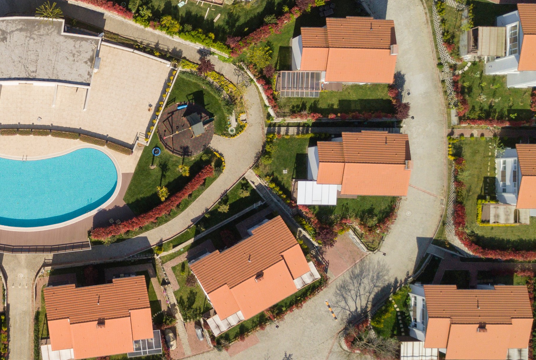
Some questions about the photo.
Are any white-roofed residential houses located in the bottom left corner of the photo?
No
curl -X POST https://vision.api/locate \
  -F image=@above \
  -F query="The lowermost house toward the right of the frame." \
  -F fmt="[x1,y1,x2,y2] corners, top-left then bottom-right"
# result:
[408,274,534,358]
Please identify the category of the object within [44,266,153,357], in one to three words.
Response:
house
